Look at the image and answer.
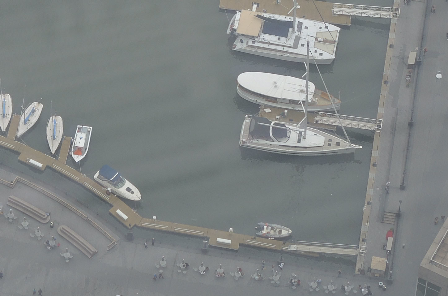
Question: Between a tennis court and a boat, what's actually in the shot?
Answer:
boat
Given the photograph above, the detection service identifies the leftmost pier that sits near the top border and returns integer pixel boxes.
[219,0,352,28]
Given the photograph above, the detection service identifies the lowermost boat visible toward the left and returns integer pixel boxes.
[91,168,140,203]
